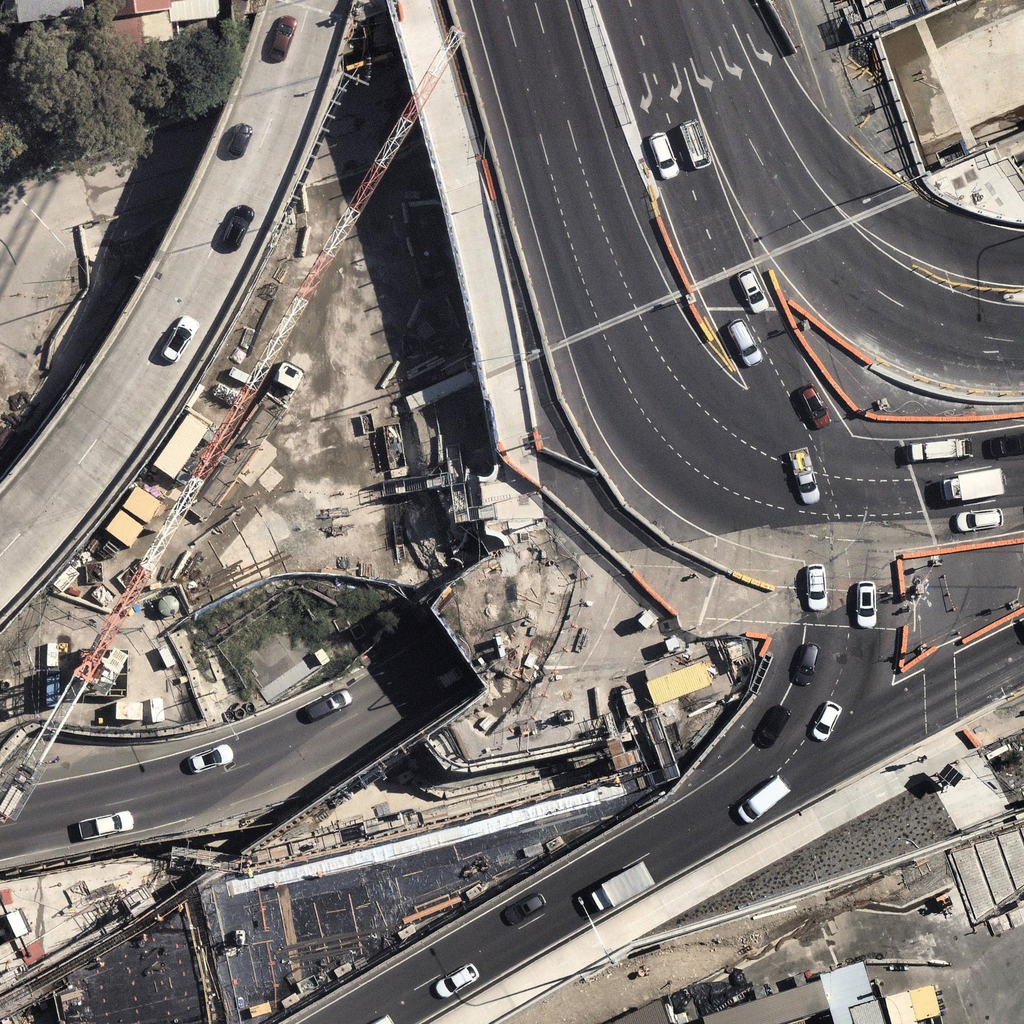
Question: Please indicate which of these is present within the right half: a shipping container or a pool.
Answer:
shipping container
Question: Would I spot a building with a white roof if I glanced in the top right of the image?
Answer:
Yes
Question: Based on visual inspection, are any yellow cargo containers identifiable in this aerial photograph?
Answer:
Yes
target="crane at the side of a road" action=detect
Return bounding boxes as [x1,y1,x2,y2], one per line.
[0,29,463,820]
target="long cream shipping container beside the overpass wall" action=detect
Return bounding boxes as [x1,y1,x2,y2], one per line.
[157,414,208,477]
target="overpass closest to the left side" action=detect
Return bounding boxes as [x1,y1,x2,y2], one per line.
[0,0,353,630]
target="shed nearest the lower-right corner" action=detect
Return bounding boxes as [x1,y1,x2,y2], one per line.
[909,984,940,1021]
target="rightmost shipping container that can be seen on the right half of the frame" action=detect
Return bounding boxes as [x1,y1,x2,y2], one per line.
[645,662,712,704]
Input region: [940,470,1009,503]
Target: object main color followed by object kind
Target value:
white truck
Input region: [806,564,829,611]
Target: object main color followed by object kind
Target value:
white car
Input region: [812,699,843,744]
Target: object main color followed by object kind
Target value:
white car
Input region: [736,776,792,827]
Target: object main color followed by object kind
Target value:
white van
